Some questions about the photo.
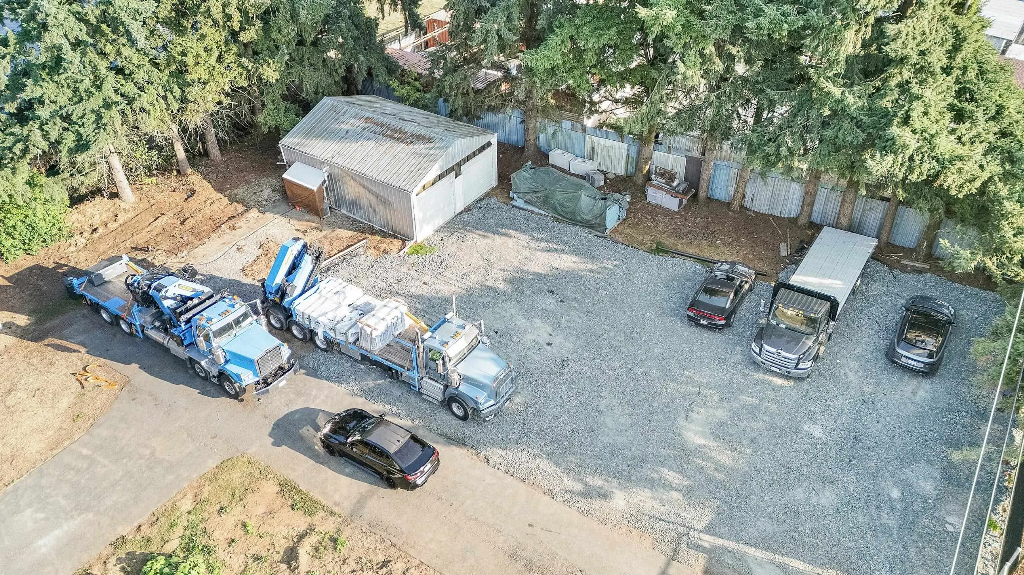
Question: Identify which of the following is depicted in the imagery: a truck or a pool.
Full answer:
Looking from above, you can make out a truck.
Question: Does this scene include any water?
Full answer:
No, there is no water in the image.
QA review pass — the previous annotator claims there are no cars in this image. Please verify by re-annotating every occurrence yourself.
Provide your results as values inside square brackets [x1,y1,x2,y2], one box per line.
[685,262,759,335]
[884,298,956,381]
[320,409,445,491]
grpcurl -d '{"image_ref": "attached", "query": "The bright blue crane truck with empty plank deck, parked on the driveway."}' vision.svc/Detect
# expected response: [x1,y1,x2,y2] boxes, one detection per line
[67,244,301,400]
